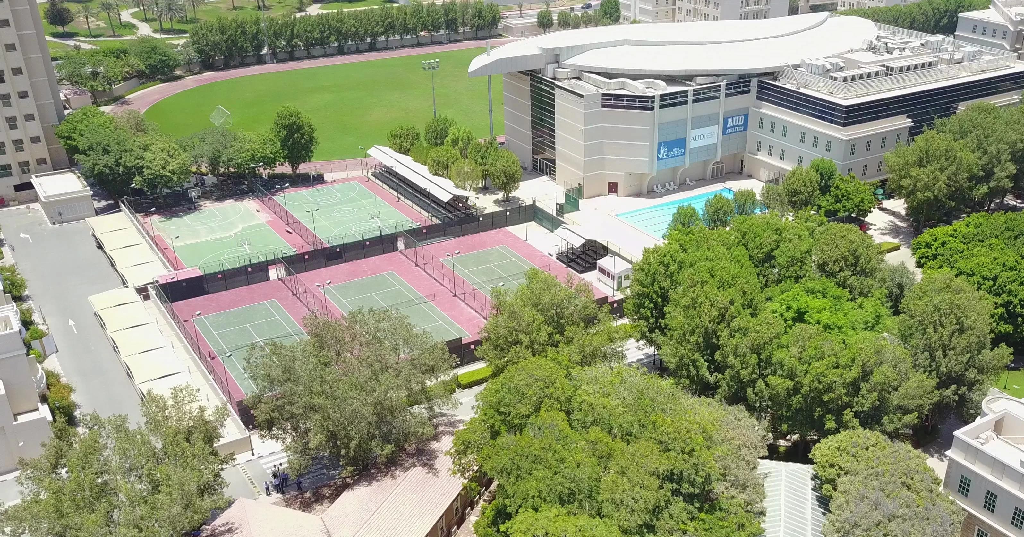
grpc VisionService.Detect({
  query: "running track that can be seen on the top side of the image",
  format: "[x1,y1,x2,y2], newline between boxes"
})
[102,39,513,165]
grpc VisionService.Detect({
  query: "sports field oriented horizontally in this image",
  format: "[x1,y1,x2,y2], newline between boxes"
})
[140,46,513,154]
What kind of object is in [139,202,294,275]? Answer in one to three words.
basketball court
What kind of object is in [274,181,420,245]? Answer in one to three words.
basketball court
